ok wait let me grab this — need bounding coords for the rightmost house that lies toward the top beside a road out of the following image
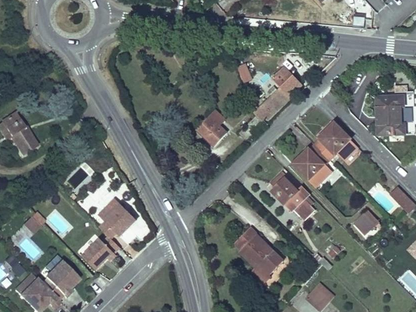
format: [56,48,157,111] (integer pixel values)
[374,93,416,138]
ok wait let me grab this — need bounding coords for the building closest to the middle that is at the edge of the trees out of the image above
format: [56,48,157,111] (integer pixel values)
[198,110,230,148]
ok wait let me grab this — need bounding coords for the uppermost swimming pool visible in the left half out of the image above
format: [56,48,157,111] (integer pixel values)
[64,165,94,193]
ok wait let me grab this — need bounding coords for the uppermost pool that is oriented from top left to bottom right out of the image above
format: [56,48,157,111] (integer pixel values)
[368,184,400,215]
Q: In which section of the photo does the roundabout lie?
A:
top left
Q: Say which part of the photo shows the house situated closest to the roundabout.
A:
left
